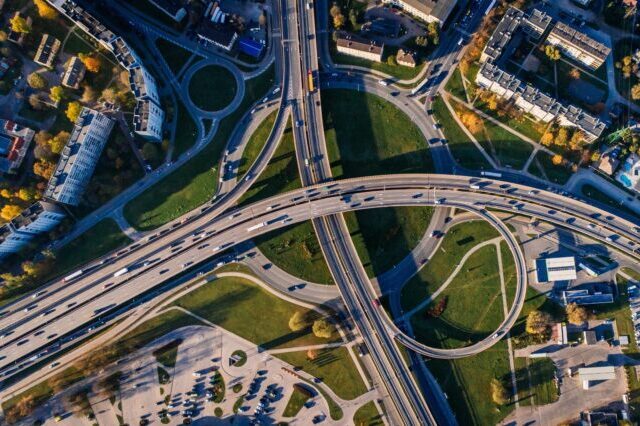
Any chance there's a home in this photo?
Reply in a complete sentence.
Yes, the photo shows a home.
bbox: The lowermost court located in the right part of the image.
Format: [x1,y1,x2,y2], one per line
[568,78,606,105]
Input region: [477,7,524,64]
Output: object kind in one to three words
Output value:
building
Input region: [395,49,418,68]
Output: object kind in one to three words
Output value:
house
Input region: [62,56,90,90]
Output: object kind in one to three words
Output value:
house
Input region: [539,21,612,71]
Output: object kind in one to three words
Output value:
building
